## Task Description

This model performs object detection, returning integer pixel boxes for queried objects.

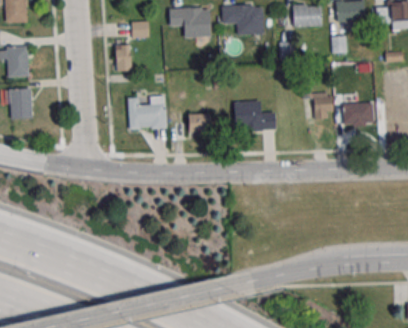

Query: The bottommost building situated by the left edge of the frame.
[10,88,32,120]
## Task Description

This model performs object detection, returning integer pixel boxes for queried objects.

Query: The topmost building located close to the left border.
[5,0,28,23]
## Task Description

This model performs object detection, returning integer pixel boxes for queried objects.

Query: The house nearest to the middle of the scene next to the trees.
[189,114,214,134]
